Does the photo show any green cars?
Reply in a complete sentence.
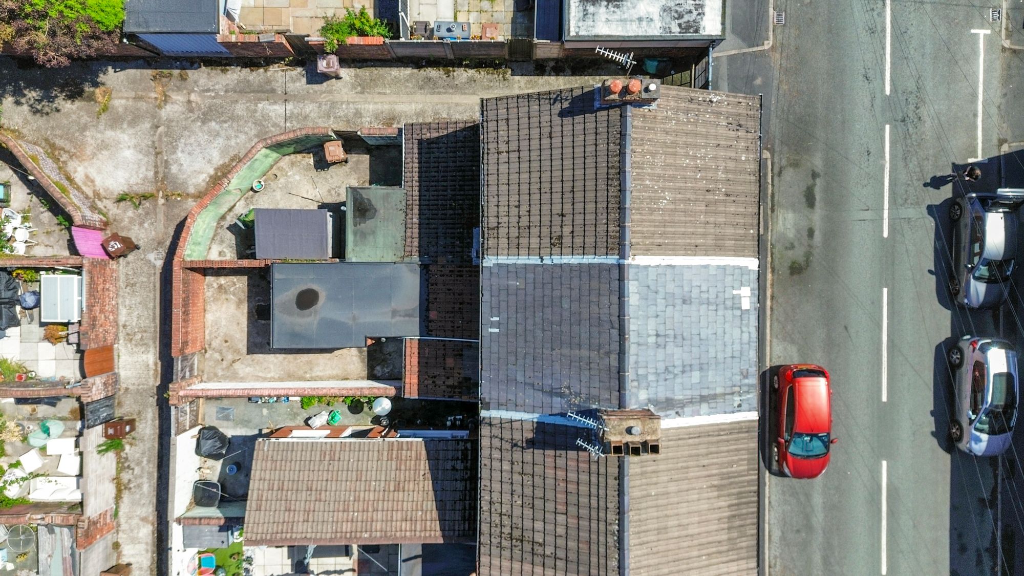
No, the picture doesn't show any green car.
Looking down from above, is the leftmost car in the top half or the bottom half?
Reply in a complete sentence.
The leftmost car sits in the bottom half of the picture.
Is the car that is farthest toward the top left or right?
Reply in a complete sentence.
The car that is farthest toward the top is on the right side of the image.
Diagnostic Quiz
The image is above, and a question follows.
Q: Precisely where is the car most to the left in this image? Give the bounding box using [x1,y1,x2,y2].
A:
[776,366,841,479]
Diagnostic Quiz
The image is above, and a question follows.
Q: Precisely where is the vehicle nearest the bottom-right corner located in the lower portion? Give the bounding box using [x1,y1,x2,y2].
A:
[952,336,1024,459]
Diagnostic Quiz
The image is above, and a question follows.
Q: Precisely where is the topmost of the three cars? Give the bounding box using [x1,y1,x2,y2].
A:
[952,194,1024,313]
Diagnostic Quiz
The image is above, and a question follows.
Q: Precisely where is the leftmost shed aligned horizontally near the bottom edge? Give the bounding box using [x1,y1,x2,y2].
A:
[183,525,242,548]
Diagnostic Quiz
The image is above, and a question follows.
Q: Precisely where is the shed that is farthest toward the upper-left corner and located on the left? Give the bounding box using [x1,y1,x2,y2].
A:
[124,0,239,59]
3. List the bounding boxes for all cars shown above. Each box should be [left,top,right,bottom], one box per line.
[776,366,841,479]
[952,194,1024,313]
[952,336,1024,459]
